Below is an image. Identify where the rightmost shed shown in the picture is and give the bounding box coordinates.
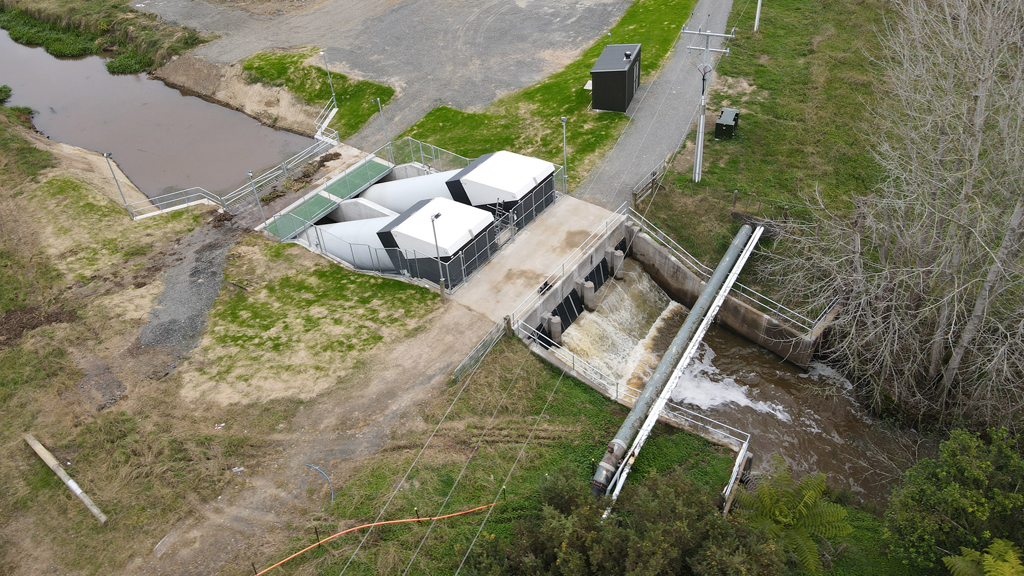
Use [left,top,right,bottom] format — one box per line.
[590,47,643,111]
